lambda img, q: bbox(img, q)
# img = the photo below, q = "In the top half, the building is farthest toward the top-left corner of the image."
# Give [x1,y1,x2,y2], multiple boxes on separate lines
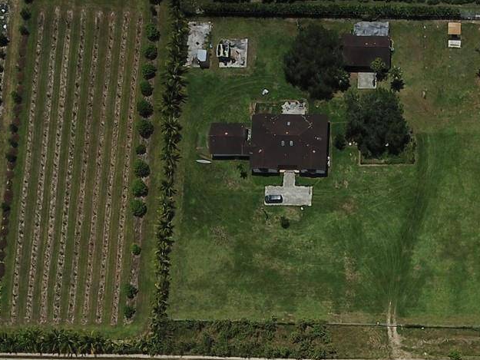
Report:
[209,124,247,158]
